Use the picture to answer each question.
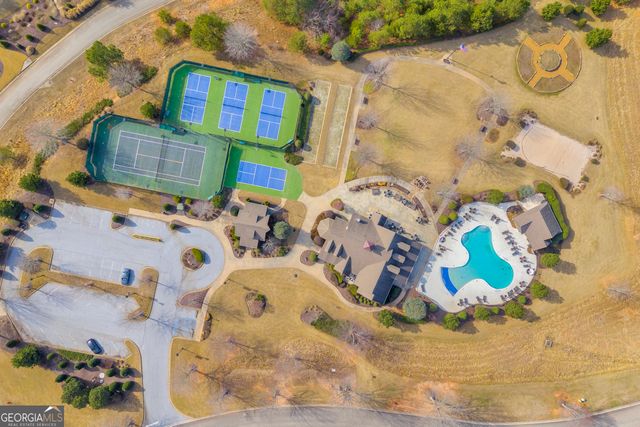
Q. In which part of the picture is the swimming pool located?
right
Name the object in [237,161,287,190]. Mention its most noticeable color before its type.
blue sports court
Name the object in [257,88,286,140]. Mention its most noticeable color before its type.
blue sports court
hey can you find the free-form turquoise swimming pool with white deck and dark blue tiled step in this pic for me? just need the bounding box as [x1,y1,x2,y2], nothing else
[416,201,538,312]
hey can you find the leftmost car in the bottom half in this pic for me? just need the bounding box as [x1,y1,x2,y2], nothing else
[86,339,101,355]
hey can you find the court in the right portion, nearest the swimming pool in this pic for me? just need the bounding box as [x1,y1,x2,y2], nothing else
[511,124,589,184]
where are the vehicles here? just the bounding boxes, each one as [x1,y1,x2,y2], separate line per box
[119,268,129,286]
[86,339,101,355]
